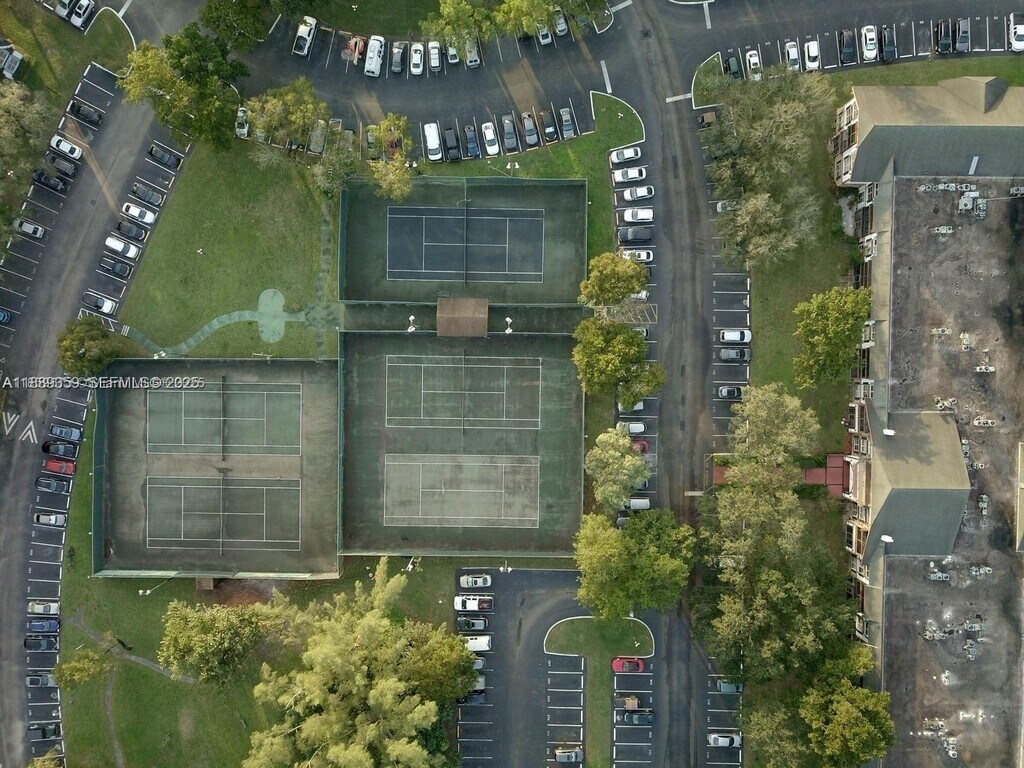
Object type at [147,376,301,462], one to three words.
tennis court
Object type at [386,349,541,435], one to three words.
tennis court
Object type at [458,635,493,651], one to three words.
vehicle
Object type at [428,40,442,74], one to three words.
car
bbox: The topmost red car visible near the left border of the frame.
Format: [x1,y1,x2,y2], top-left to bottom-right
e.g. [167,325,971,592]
[44,458,77,475]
